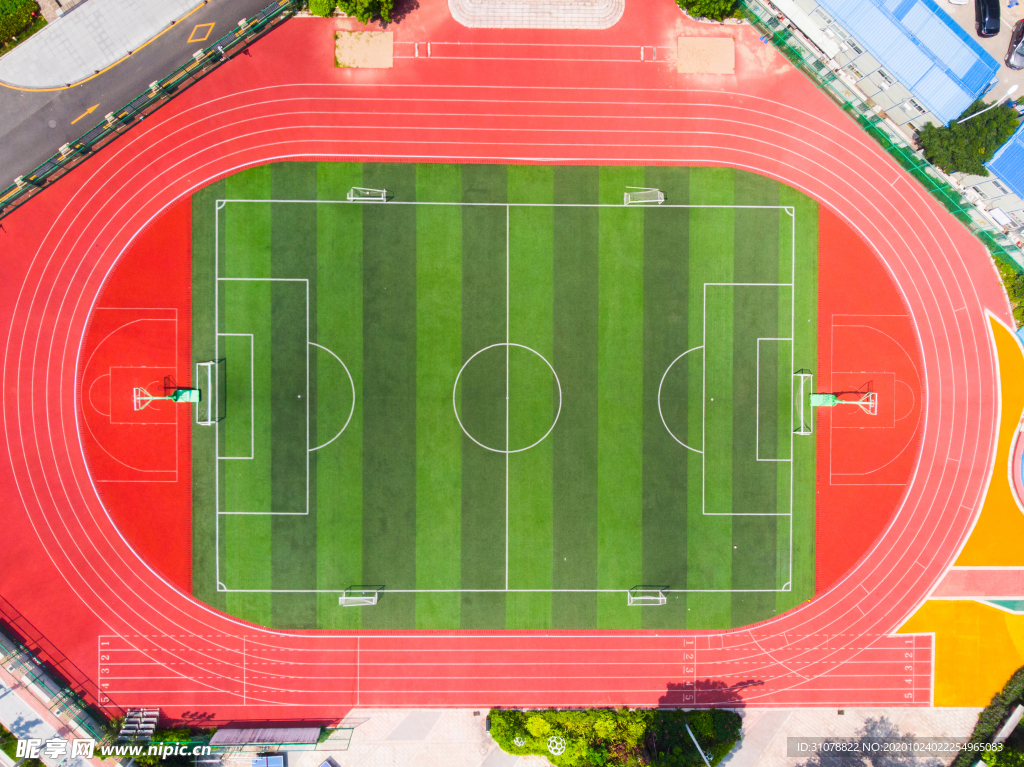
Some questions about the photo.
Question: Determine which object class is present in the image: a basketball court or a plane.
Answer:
basketball court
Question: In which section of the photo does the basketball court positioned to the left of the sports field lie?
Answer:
left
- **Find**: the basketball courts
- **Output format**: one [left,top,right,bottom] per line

[815,205,921,595]
[81,196,192,596]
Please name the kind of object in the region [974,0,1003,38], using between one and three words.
car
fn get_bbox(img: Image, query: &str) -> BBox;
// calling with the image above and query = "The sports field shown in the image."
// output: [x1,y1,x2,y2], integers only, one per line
[192,163,820,630]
